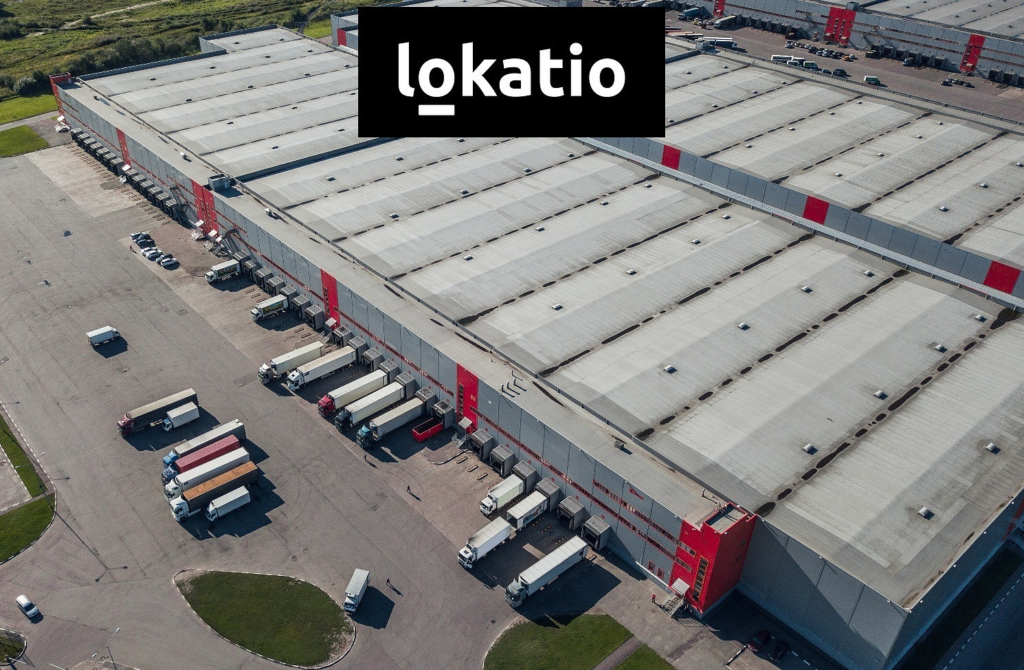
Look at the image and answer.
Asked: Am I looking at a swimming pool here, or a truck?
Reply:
truck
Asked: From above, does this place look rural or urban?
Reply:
urban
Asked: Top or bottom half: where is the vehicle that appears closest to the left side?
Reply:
bottom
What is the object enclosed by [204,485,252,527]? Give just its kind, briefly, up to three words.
truck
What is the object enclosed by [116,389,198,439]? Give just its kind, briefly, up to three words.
truck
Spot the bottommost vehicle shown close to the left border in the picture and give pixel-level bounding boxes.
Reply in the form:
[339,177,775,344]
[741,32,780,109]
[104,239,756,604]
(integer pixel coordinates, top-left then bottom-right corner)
[16,589,41,617]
